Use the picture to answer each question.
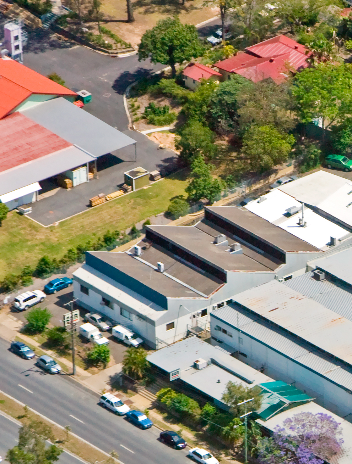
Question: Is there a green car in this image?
Yes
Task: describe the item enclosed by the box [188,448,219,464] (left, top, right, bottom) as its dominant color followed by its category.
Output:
white car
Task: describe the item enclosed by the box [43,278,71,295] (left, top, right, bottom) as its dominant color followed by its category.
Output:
blue car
